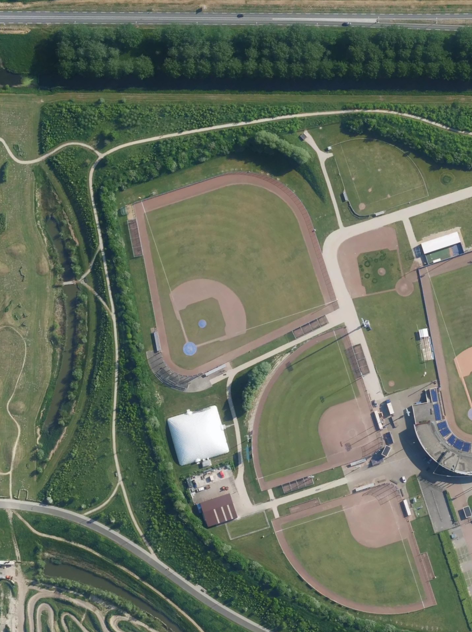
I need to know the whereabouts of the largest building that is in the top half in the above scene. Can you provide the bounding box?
[421,232,463,265]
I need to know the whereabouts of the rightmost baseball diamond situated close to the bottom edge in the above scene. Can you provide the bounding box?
[272,483,436,615]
